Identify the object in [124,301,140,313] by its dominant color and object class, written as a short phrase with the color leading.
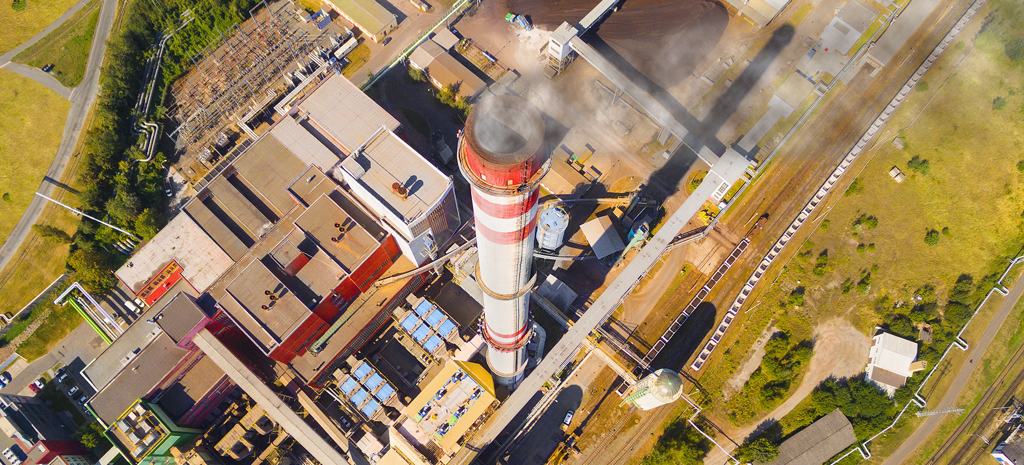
white vehicle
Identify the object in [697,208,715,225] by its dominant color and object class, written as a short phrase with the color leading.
yellow work vehicle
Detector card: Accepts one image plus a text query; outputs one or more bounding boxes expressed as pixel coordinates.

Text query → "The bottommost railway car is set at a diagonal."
[617,365,645,394]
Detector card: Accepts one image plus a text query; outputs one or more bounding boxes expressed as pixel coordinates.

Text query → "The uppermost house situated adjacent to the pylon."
[865,325,929,394]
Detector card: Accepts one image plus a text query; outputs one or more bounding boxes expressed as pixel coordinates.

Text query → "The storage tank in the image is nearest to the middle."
[538,212,568,254]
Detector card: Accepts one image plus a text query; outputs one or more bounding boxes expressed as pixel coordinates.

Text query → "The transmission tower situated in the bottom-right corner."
[916,402,967,420]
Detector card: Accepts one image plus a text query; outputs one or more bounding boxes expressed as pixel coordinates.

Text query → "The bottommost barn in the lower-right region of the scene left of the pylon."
[746,407,860,465]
